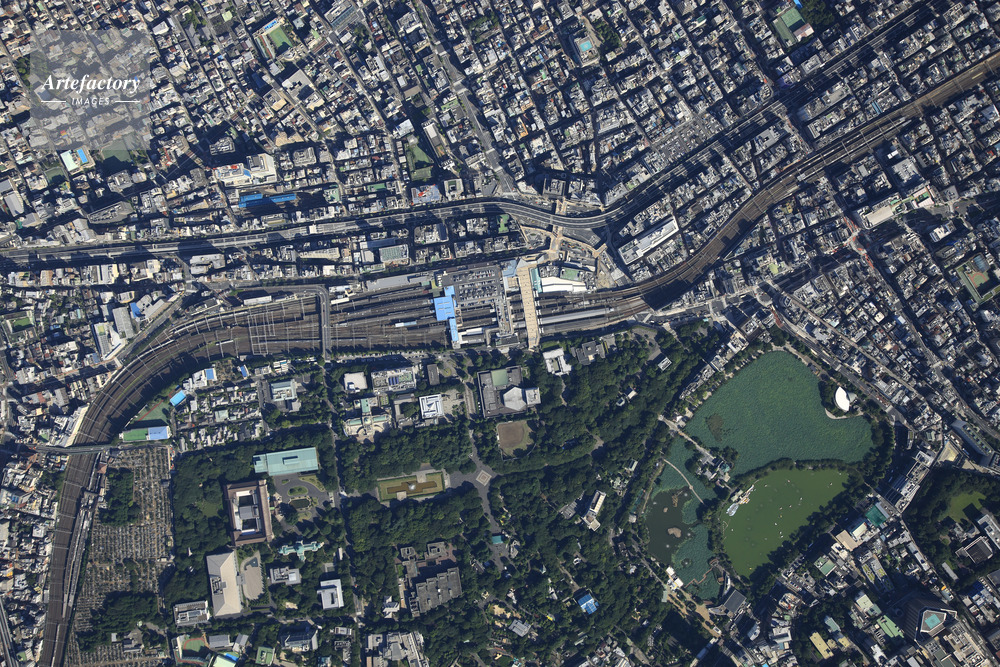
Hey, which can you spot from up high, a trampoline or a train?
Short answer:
train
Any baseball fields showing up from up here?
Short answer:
Yes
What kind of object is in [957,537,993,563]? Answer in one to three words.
house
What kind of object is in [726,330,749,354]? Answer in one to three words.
building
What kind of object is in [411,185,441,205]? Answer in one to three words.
building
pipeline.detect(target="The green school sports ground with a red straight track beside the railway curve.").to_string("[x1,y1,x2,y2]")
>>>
[121,400,174,433]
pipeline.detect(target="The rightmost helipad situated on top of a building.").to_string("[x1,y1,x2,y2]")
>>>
[925,614,940,628]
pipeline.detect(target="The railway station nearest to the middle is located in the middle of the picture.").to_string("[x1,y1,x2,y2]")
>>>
[268,253,613,350]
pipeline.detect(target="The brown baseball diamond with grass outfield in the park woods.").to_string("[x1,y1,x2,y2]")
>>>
[497,420,539,460]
